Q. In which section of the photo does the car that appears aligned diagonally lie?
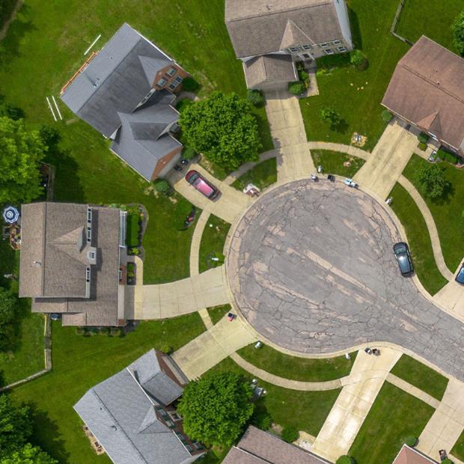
center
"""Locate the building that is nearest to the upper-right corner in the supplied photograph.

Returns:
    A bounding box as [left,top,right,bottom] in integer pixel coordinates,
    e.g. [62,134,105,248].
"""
[381,35,464,154]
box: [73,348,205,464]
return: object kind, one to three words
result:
house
